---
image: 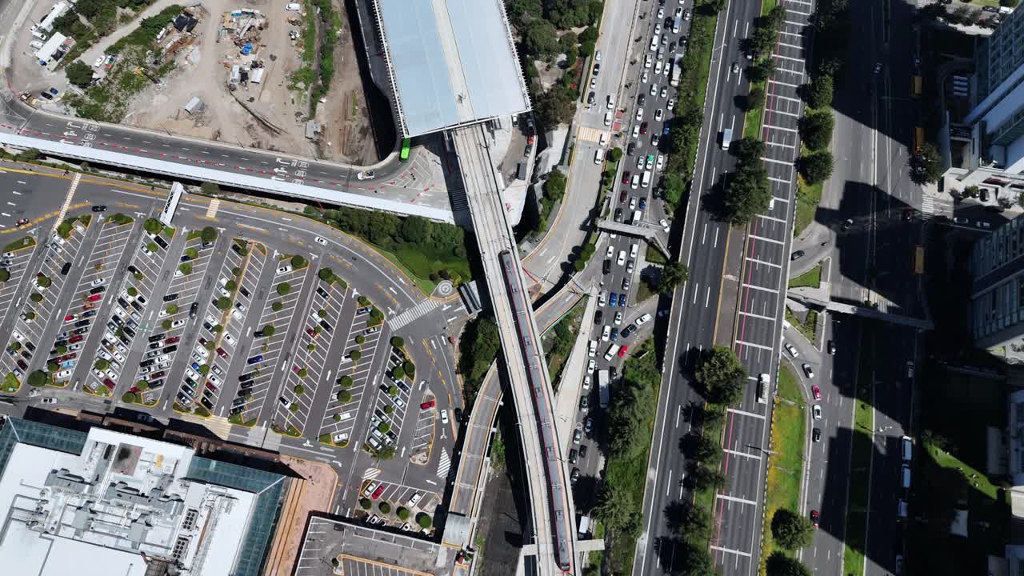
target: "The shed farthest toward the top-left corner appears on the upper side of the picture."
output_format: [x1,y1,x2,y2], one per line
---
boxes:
[35,32,70,66]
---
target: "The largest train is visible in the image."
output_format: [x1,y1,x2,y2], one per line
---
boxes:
[502,254,569,563]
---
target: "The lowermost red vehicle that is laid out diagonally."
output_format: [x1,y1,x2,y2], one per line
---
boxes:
[371,485,384,500]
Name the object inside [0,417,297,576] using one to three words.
building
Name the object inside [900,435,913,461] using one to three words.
vehicle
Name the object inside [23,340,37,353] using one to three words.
vehicle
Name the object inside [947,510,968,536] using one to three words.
building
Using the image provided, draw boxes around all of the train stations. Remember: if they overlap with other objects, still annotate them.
[369,0,535,167]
